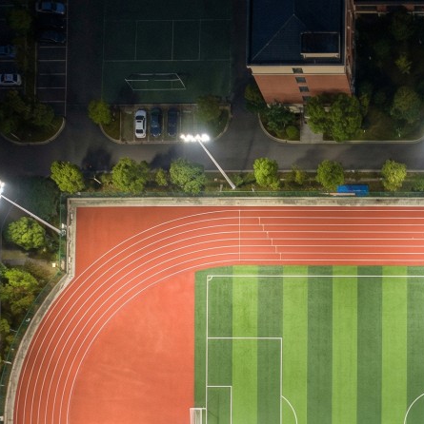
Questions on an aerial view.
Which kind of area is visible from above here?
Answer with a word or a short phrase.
sports ground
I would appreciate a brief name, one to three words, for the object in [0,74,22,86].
vehicle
